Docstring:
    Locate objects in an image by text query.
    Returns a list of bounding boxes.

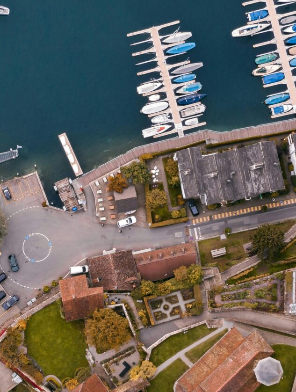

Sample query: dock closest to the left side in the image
[53,178,83,209]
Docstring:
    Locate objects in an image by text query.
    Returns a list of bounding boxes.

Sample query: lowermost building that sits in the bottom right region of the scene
[175,328,283,392]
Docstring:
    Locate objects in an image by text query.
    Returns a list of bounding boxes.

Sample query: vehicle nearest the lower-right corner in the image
[185,198,200,218]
